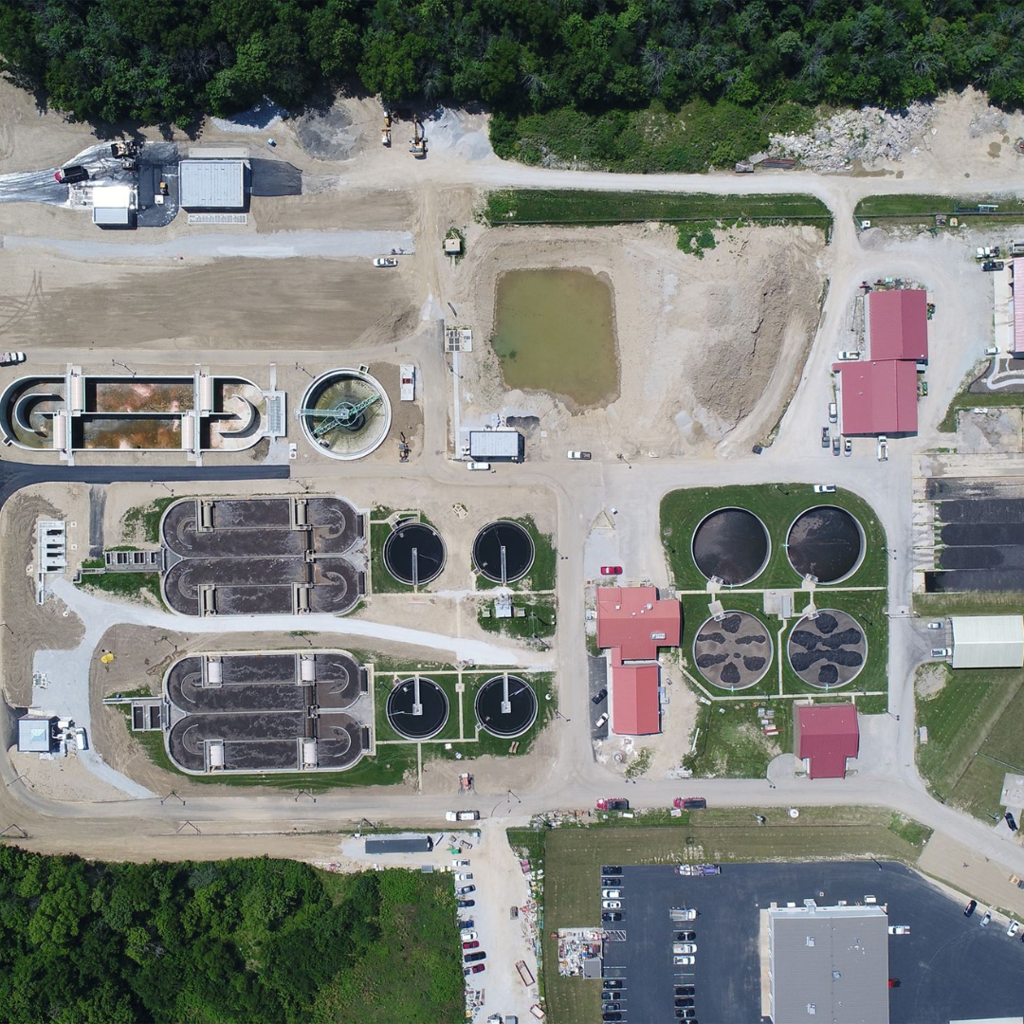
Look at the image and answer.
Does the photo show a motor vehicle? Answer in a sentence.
Yes, you can see a motor vehicle in this photo.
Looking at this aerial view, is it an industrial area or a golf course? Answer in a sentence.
The area seen from above is an industrial area.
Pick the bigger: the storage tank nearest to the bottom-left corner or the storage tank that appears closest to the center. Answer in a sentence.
The storage tank that appears closest to the center is smaller than the storage tank nearest to the bottom-left corner.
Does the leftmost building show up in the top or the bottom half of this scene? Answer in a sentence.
It is in the bottom half that the leftmost building appears.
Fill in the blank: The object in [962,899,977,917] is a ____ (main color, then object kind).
black car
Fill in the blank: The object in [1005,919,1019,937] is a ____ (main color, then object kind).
white car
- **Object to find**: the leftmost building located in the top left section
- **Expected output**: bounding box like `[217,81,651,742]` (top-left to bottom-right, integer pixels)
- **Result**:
[89,186,138,228]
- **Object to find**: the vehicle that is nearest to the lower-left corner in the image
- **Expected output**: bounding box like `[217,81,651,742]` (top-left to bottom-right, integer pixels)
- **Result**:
[75,729,88,751]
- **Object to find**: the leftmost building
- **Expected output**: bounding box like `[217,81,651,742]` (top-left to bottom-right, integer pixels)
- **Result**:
[18,717,57,752]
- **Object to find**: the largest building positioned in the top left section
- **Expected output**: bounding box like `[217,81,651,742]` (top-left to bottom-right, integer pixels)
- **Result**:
[180,161,249,212]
